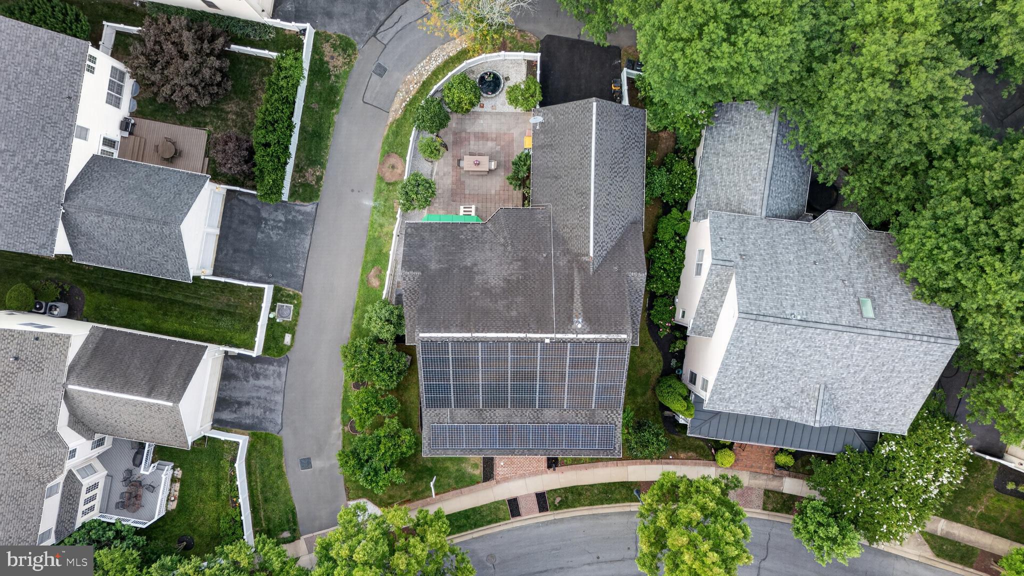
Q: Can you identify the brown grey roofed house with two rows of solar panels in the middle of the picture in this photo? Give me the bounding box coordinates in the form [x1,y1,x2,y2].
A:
[392,99,648,458]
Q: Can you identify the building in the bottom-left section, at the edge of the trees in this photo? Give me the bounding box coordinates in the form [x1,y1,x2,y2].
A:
[0,321,223,561]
